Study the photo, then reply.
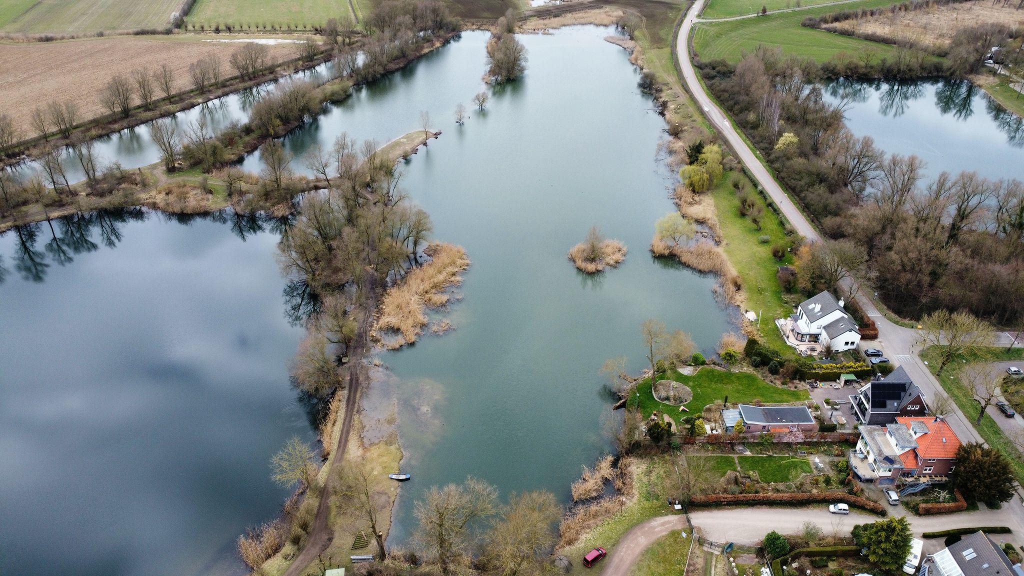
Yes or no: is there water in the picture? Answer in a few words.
Yes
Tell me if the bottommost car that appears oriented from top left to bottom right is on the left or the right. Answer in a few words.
right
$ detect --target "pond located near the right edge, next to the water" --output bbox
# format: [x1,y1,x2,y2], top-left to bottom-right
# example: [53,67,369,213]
[784,77,1024,218]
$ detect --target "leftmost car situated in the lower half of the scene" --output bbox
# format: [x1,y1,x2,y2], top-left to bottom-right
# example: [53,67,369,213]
[582,549,606,568]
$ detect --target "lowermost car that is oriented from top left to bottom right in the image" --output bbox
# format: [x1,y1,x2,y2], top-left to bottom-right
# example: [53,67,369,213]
[880,489,903,509]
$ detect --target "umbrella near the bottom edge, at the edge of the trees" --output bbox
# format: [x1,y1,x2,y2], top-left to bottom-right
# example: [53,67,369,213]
[553,557,571,571]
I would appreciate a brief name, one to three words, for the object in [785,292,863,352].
house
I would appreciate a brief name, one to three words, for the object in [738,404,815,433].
shed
